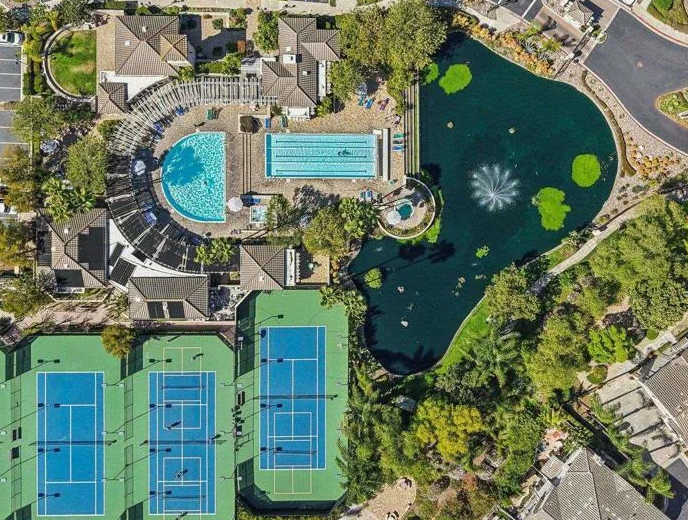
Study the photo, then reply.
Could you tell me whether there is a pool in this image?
Yes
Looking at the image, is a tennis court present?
Yes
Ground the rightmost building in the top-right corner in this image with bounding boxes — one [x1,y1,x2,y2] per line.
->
[567,1,593,26]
